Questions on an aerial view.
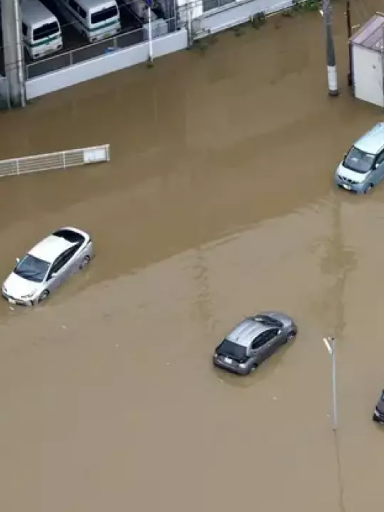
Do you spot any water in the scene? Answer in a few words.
Yes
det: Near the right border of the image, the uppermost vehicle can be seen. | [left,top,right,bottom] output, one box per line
[335,123,384,194]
